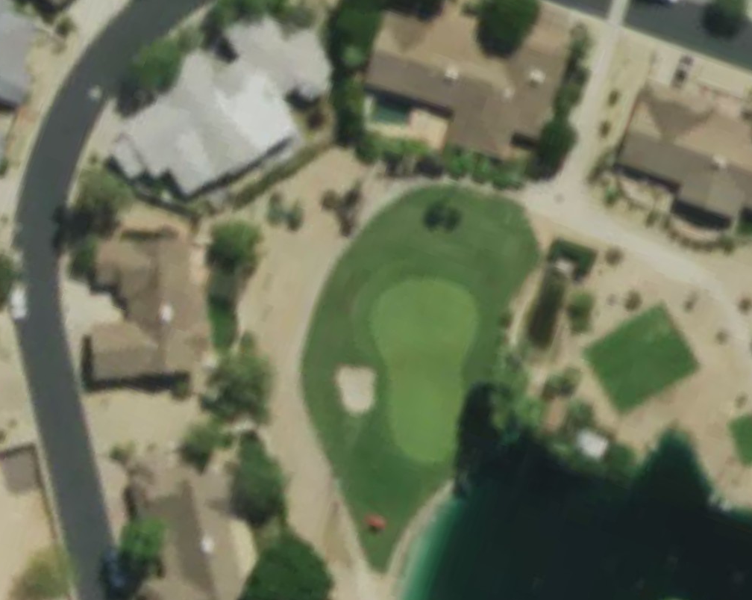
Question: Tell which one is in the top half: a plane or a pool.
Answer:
pool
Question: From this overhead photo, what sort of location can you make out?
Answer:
residential area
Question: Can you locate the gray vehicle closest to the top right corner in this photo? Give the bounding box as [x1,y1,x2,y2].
[673,57,688,86]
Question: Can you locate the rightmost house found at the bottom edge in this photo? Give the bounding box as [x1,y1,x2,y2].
[127,458,244,600]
